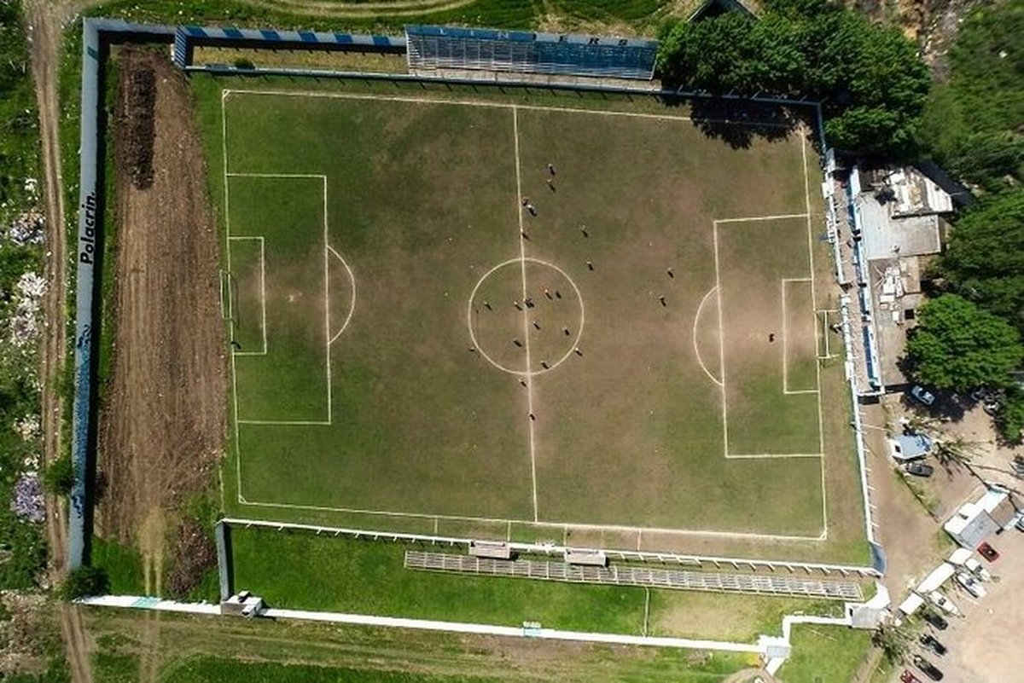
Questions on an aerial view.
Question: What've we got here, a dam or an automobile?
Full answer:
There is an automobile in the scene.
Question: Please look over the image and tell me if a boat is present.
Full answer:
Yes, I can see a boat in this picture.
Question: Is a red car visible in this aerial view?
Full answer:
Yes, there's a red car here.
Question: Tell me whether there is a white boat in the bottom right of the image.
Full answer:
Yes, there is a white boat in the bottom right of the image.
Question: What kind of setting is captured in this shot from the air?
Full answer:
The picture captures a sports ground.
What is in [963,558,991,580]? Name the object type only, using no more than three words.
vehicle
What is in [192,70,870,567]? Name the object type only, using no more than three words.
soccer field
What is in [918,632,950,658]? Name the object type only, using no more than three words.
vehicle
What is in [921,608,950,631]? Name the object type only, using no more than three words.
car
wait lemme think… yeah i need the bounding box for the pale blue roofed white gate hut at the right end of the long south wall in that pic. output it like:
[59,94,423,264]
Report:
[759,637,789,658]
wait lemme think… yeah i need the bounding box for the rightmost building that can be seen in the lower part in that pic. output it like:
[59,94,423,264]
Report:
[945,487,1018,549]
